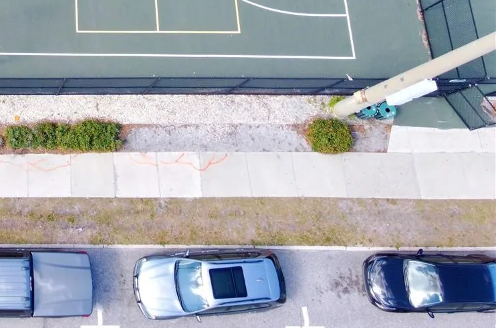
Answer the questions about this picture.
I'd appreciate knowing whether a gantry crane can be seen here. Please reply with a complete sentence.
No, this view has no gantry crane in it.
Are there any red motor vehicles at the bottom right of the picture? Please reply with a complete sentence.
No, there's no red motor vehicle to be seen at the bottom right of the picture.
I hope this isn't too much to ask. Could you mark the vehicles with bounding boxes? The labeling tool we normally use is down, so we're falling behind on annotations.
[0,251,93,314]
[134,244,285,326]
[358,245,496,324]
